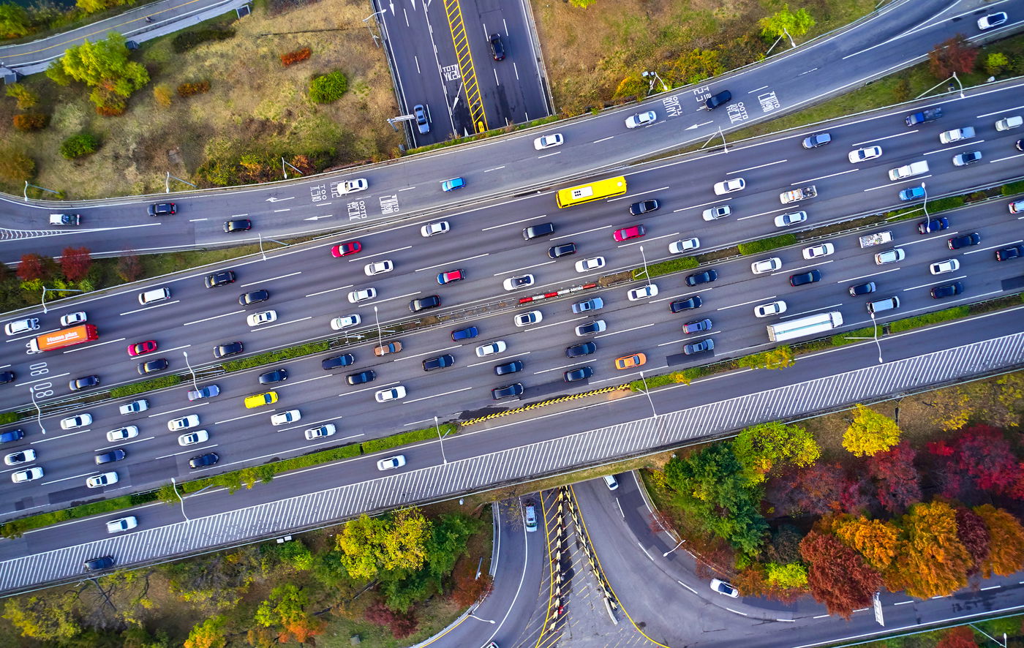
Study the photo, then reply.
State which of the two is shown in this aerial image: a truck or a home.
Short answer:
truck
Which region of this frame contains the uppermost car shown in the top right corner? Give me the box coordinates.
[977,11,1008,30]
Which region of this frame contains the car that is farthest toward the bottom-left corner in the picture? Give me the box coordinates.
[84,554,115,572]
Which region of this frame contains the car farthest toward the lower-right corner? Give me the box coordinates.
[710,578,739,597]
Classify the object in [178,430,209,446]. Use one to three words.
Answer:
car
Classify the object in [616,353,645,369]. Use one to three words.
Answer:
car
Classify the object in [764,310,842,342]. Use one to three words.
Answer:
truck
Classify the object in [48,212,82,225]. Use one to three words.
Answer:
vehicle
